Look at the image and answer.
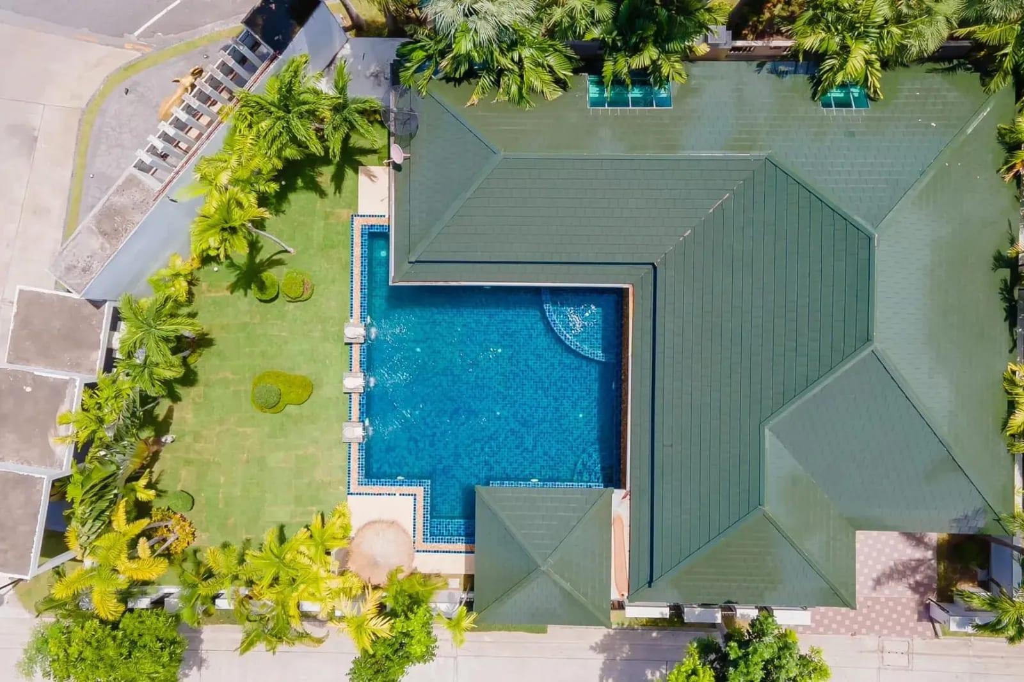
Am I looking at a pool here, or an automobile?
pool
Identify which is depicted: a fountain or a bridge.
fountain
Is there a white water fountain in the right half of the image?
No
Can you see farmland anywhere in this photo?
No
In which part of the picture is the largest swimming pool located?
center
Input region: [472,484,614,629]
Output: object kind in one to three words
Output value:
building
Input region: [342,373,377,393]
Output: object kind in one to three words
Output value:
fountain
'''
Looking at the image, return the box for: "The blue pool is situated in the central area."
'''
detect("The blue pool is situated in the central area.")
[347,214,622,554]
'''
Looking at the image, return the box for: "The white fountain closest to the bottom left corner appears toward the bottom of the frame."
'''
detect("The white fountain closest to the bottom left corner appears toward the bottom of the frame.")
[341,422,379,442]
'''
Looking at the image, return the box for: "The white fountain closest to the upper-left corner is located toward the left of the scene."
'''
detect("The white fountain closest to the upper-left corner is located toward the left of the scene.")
[343,324,378,344]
